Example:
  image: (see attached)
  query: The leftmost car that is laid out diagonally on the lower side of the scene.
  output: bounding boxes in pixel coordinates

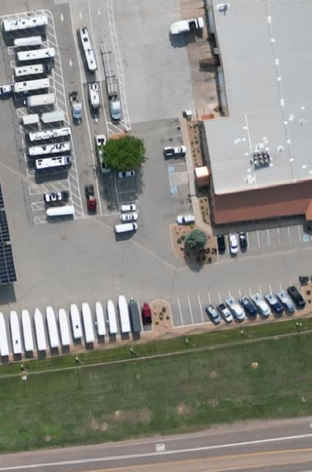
[202,303,221,325]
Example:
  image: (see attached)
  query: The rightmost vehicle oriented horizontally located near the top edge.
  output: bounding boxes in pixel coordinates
[168,16,205,32]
